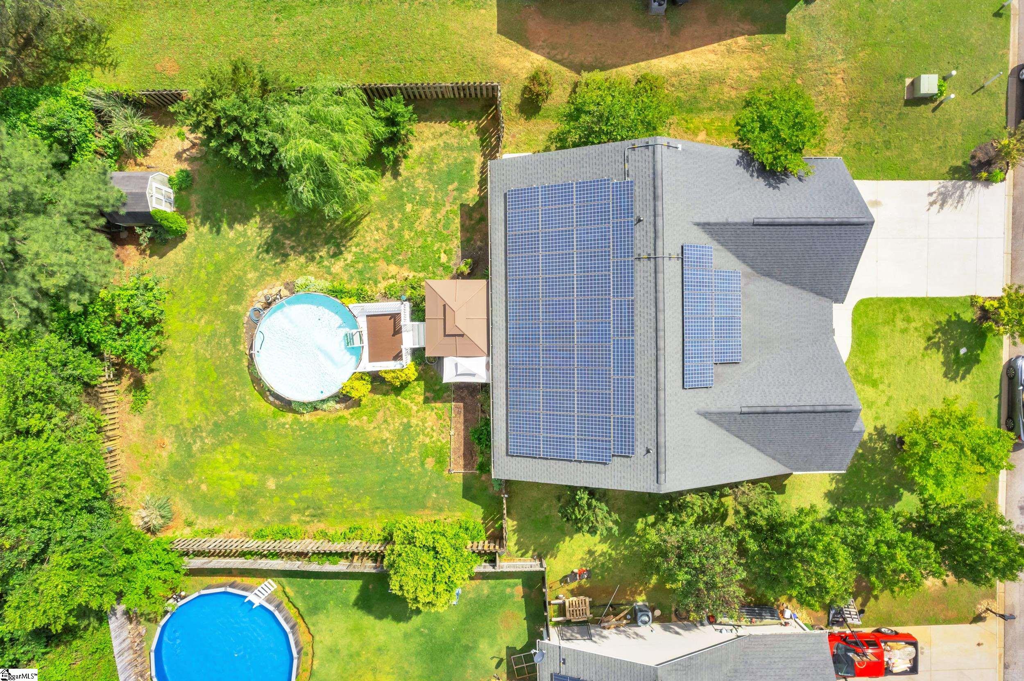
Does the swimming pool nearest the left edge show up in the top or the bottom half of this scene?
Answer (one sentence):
The swimming pool nearest the left edge sits in the bottom half of the picture.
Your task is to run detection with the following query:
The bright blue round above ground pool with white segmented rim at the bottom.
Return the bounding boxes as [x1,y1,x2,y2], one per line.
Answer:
[154,586,304,681]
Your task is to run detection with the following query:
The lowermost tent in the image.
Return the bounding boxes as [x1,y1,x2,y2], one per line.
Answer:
[443,357,486,382]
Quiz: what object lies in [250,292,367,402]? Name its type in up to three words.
swimming pool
